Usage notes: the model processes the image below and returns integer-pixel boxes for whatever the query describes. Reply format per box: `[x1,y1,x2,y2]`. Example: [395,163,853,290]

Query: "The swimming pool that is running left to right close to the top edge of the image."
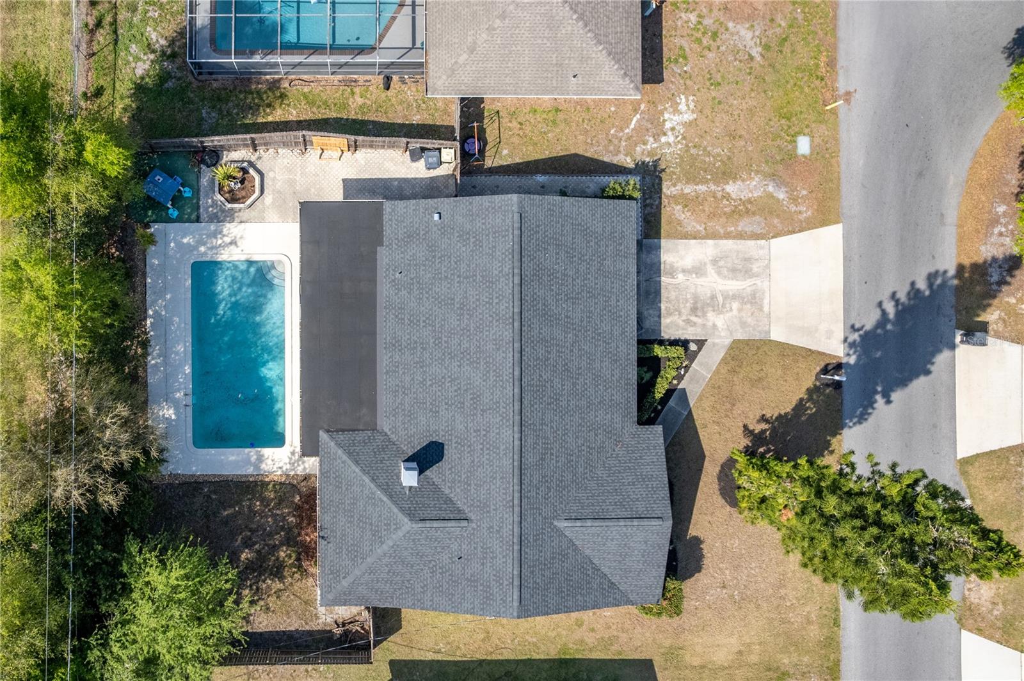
[210,0,410,56]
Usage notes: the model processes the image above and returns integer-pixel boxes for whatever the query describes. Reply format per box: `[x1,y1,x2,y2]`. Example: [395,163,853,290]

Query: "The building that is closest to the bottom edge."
[298,193,673,619]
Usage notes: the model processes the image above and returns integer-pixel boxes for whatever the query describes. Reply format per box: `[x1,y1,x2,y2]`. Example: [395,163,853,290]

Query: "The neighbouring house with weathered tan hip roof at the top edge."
[423,0,643,99]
